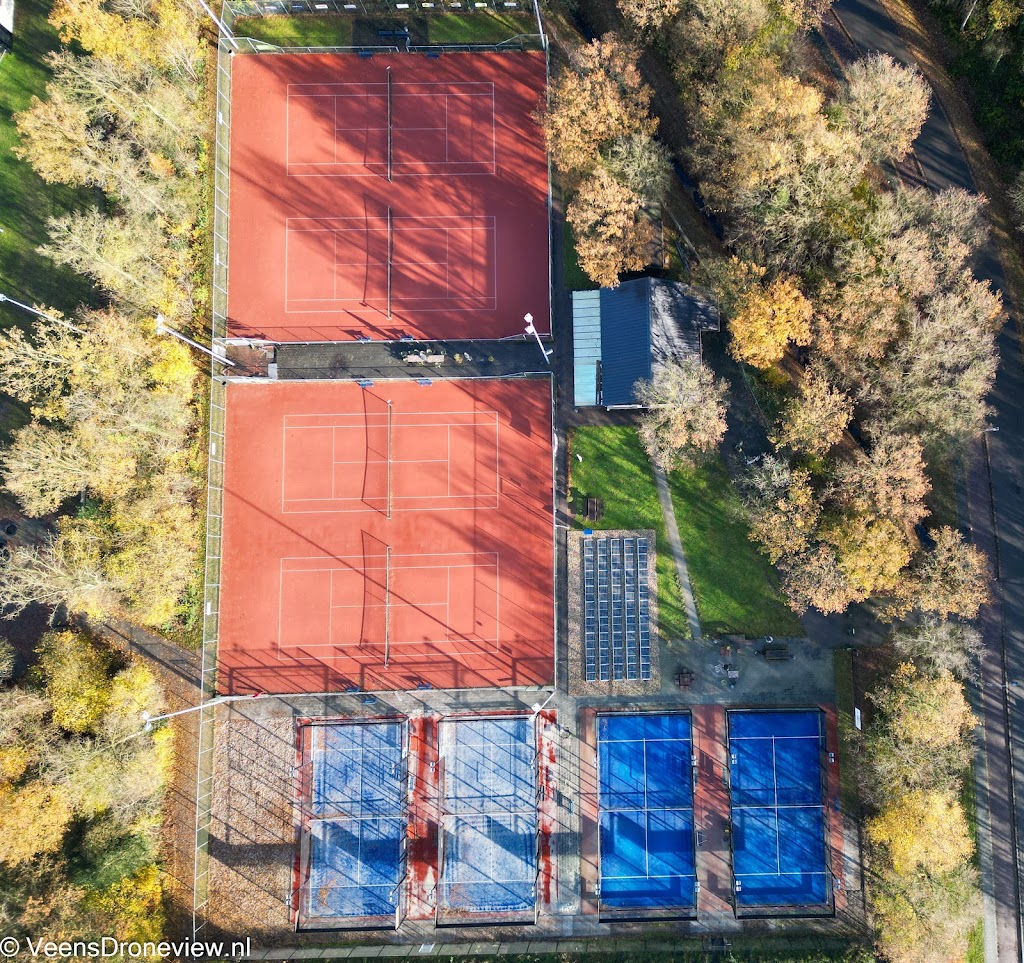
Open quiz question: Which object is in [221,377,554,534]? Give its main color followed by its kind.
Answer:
red tennis court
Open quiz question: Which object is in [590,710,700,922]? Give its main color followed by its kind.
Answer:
blue sports court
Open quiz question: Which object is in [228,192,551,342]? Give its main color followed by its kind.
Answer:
red tennis court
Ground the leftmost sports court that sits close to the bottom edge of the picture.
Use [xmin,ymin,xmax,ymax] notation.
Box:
[285,719,410,933]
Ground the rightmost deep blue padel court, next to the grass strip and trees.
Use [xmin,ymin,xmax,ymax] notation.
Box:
[727,708,842,919]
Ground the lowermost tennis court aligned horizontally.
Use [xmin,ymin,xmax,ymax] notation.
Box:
[217,529,555,695]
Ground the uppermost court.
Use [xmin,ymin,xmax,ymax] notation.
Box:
[230,51,549,194]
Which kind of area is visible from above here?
sports ground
